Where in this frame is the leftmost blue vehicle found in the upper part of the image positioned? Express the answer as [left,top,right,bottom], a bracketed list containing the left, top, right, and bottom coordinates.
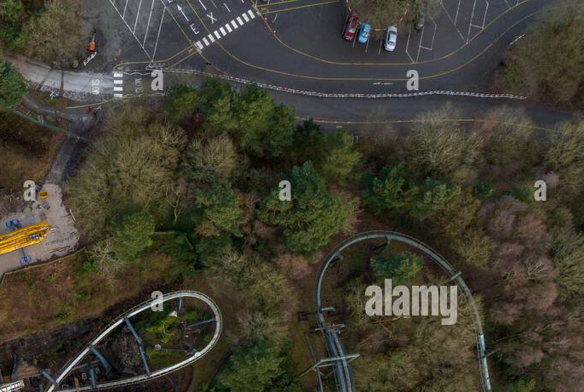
[356,22,371,44]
